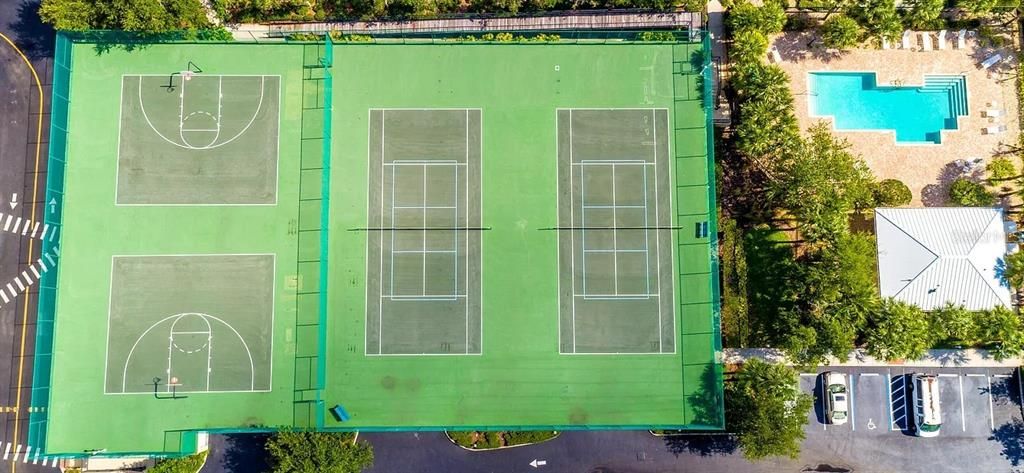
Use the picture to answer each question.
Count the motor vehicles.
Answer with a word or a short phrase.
2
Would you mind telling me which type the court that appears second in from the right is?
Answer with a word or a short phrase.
tennis court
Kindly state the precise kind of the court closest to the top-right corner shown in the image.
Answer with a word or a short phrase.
tennis court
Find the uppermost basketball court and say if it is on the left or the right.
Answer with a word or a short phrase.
left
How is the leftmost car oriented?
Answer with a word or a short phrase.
from top to bottom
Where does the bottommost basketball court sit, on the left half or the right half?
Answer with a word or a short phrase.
left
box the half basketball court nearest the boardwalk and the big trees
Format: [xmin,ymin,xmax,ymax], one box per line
[115,75,281,205]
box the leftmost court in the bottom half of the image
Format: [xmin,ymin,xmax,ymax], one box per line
[104,254,276,394]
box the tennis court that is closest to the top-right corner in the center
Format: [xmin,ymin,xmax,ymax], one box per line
[556,108,676,354]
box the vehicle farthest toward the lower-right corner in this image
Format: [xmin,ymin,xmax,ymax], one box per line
[907,372,945,440]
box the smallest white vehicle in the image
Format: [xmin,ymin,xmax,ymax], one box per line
[822,371,849,425]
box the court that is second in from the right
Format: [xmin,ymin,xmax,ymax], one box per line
[365,108,482,356]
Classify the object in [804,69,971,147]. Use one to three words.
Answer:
swimming pool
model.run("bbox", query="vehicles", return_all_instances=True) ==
[907,372,945,440]
[822,371,849,425]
